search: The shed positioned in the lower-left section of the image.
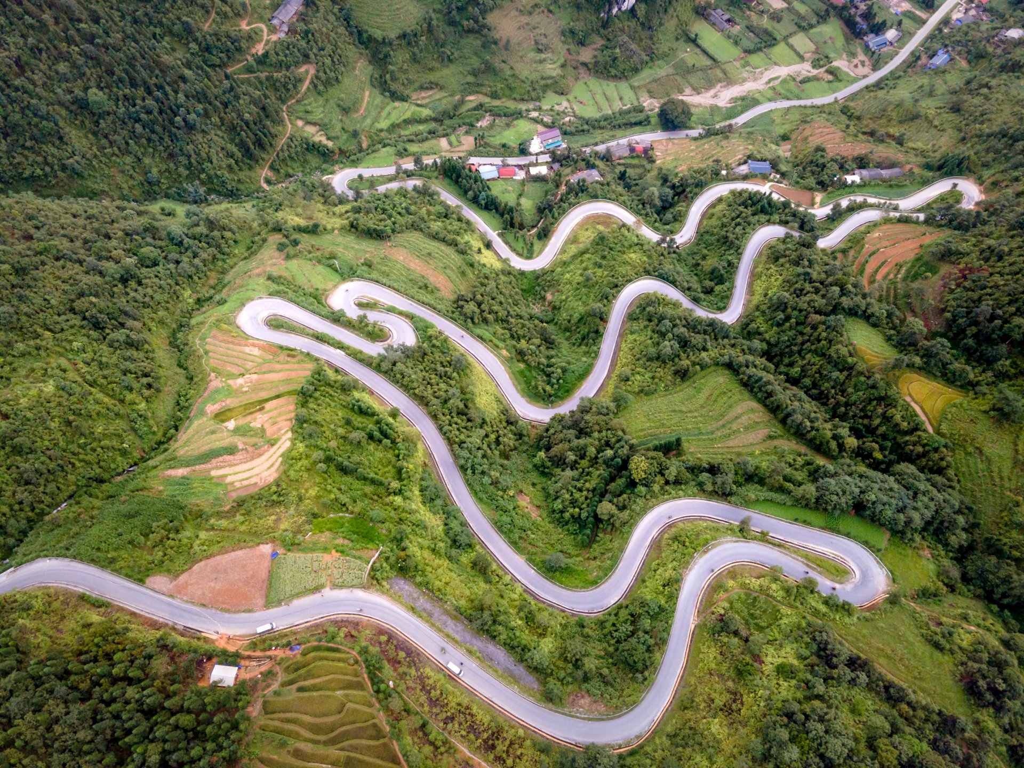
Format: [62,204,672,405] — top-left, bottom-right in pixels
[210,661,240,692]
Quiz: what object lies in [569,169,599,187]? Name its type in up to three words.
house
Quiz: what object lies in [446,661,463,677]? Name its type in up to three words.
vehicle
